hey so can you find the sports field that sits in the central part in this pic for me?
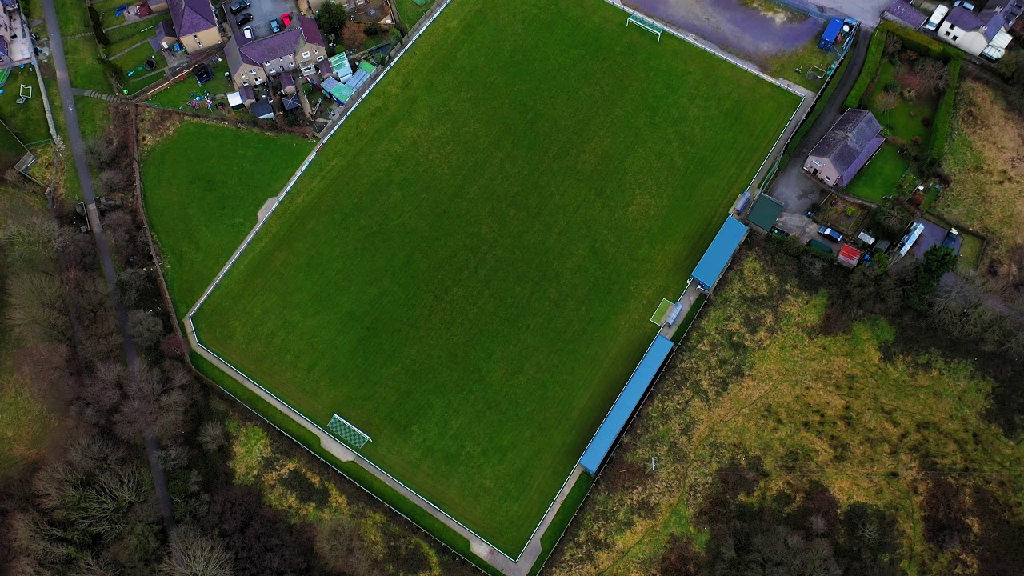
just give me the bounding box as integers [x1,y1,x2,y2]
[191,0,800,559]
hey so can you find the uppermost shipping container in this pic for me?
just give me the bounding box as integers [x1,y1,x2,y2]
[818,18,845,51]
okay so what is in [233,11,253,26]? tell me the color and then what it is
black car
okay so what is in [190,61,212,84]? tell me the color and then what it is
black trampoline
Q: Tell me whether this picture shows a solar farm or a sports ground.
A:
sports ground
